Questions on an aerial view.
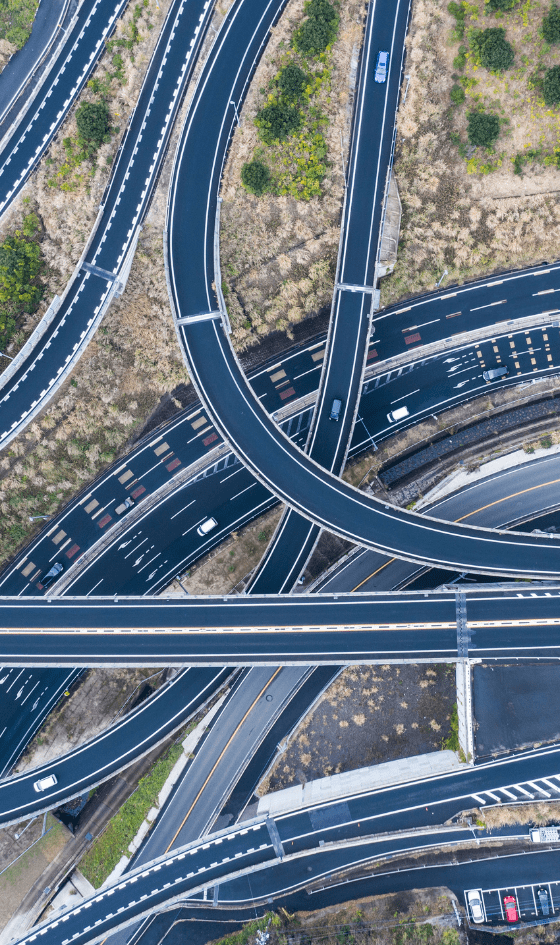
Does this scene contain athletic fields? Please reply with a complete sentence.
No, the photo shows no athletic field.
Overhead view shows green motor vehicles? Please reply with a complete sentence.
No, the photo shows no green motor vehicle.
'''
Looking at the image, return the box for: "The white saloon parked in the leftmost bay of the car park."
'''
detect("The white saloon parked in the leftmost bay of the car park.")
[467,888,483,924]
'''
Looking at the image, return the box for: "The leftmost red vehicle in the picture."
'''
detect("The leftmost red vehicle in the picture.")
[503,895,518,923]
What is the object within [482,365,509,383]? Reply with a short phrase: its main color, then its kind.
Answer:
blue car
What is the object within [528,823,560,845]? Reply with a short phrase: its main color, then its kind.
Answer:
white truck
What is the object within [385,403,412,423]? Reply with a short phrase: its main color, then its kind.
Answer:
white vehicle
